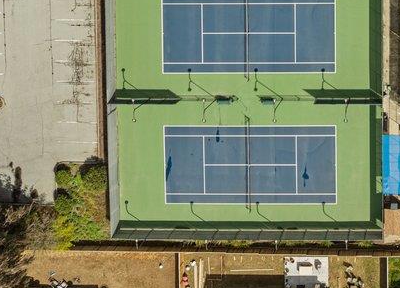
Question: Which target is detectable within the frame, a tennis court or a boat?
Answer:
tennis court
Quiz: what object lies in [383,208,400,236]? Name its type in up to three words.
shed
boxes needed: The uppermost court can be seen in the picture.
[116,0,381,99]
